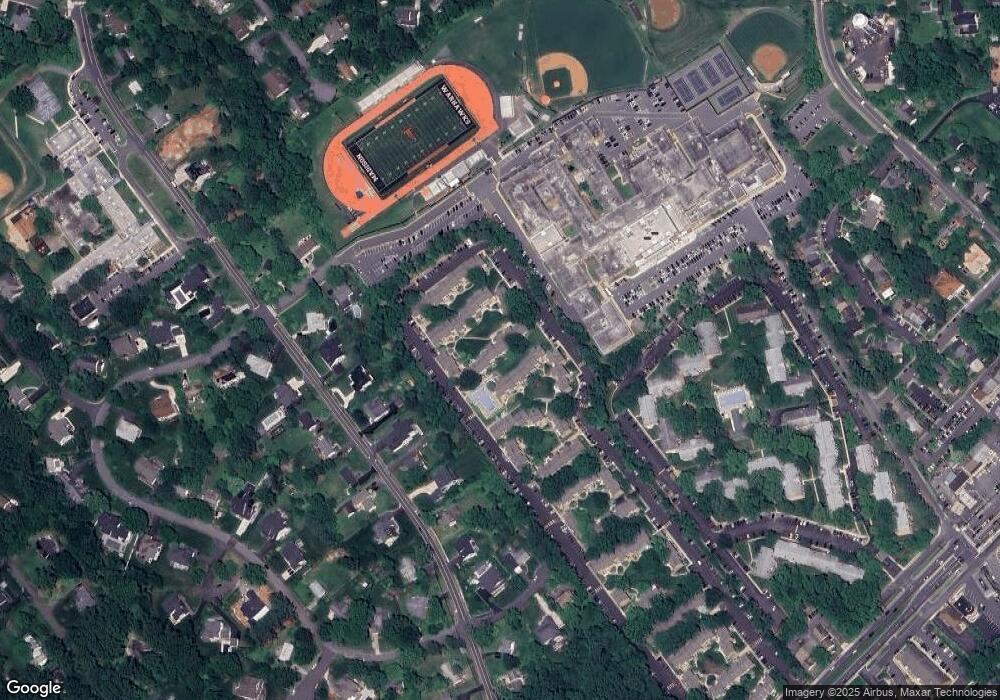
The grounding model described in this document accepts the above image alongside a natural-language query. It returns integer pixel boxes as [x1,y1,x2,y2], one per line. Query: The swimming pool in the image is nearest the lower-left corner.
[463,385,502,418]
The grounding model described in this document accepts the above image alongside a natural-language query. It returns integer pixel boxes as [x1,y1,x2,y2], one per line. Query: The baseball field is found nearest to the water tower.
[725,7,814,86]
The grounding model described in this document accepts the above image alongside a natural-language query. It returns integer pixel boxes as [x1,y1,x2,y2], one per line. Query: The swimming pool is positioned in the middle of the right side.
[713,385,752,418]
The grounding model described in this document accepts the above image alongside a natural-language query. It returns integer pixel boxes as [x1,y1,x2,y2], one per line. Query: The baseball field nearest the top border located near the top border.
[646,0,683,31]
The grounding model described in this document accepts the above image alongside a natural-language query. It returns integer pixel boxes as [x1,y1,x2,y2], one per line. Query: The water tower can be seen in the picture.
[853,13,884,46]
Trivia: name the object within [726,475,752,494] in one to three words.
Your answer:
building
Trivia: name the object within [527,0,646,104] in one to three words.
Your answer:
baseball field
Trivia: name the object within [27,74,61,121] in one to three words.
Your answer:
basketball court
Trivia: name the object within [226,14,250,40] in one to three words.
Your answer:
house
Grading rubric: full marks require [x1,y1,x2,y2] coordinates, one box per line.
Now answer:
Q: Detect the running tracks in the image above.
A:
[323,61,506,236]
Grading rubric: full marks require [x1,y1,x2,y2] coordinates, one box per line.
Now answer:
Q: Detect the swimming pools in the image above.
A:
[463,385,502,418]
[713,385,752,418]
